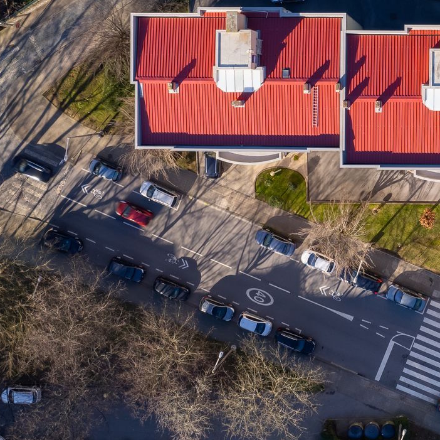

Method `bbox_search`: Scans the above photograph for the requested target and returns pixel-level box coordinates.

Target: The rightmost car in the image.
[382,281,428,313]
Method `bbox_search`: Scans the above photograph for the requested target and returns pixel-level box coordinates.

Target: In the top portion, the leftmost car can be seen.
[14,153,56,184]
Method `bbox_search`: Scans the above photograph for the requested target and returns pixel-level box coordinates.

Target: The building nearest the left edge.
[131,7,362,167]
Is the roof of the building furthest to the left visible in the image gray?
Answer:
No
